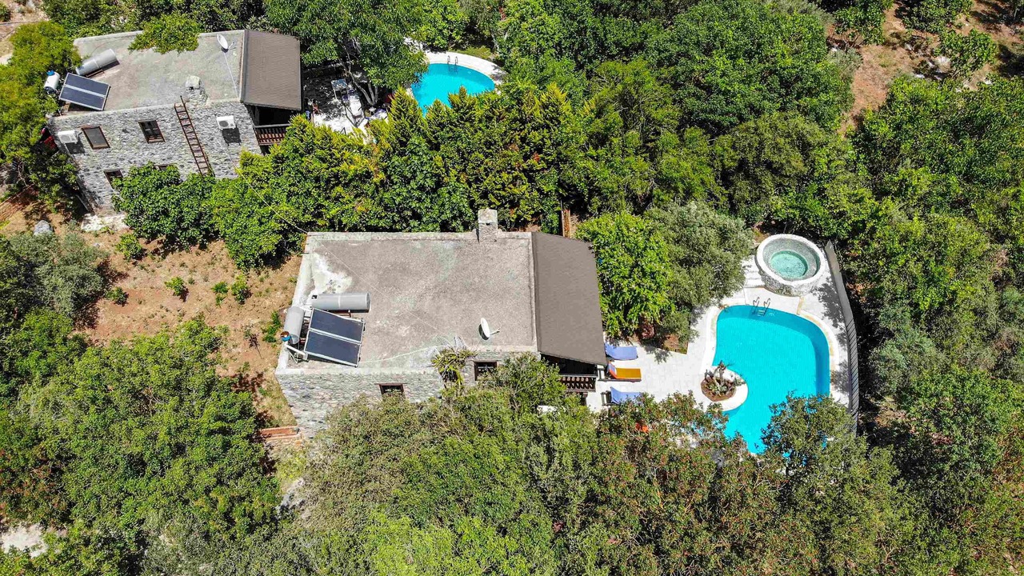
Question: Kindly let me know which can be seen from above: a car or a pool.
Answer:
pool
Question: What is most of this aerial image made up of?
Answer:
trees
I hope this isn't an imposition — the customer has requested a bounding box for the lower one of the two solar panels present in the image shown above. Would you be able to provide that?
[303,308,369,366]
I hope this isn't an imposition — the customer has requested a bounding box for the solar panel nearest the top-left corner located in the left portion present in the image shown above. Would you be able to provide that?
[59,73,119,111]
